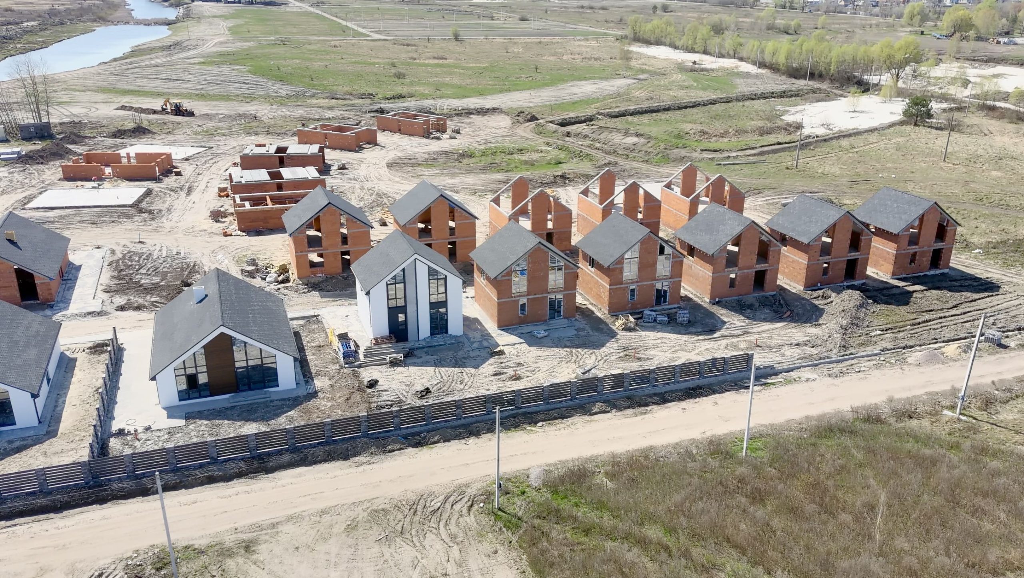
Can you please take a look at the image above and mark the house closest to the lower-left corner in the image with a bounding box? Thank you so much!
[0,299,76,444]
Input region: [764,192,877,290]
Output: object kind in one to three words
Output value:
house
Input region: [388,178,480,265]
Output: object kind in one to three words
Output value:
house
